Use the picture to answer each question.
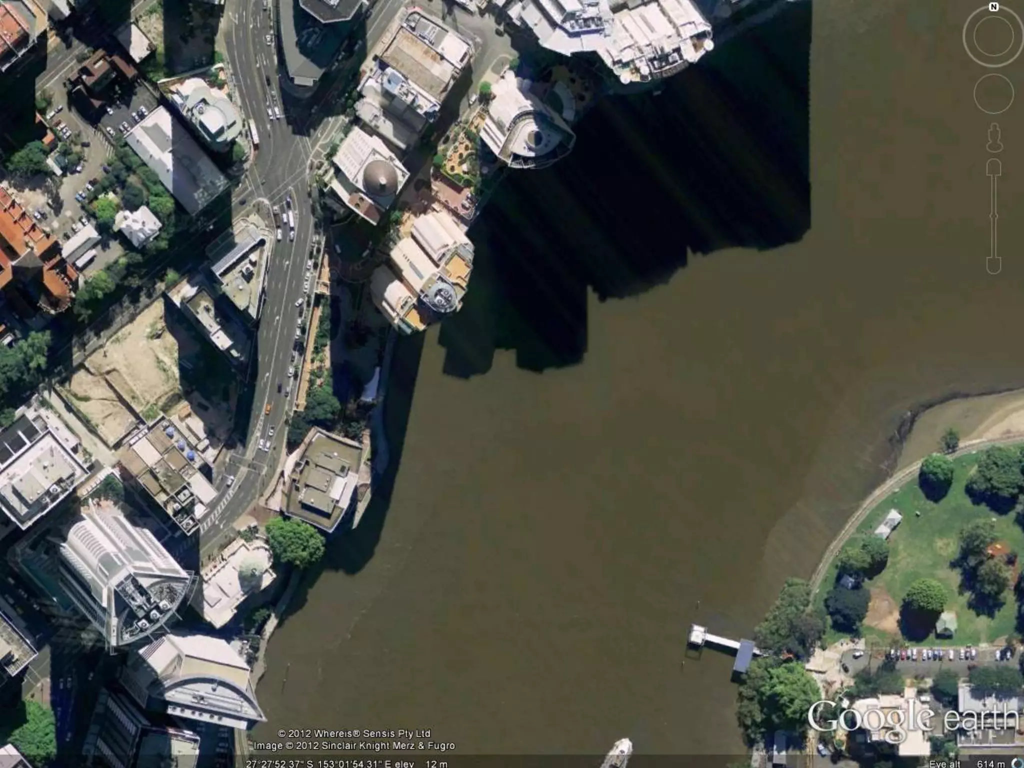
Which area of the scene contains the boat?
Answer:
bottom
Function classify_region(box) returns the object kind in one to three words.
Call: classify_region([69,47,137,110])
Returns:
house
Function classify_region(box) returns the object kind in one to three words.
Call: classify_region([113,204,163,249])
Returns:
house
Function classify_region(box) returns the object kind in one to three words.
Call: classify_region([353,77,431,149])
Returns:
building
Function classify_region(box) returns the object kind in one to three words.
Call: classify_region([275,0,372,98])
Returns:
building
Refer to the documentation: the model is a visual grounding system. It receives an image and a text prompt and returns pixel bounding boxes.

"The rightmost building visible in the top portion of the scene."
[592,0,712,83]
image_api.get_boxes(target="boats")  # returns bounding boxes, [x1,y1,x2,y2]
[605,739,632,768]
